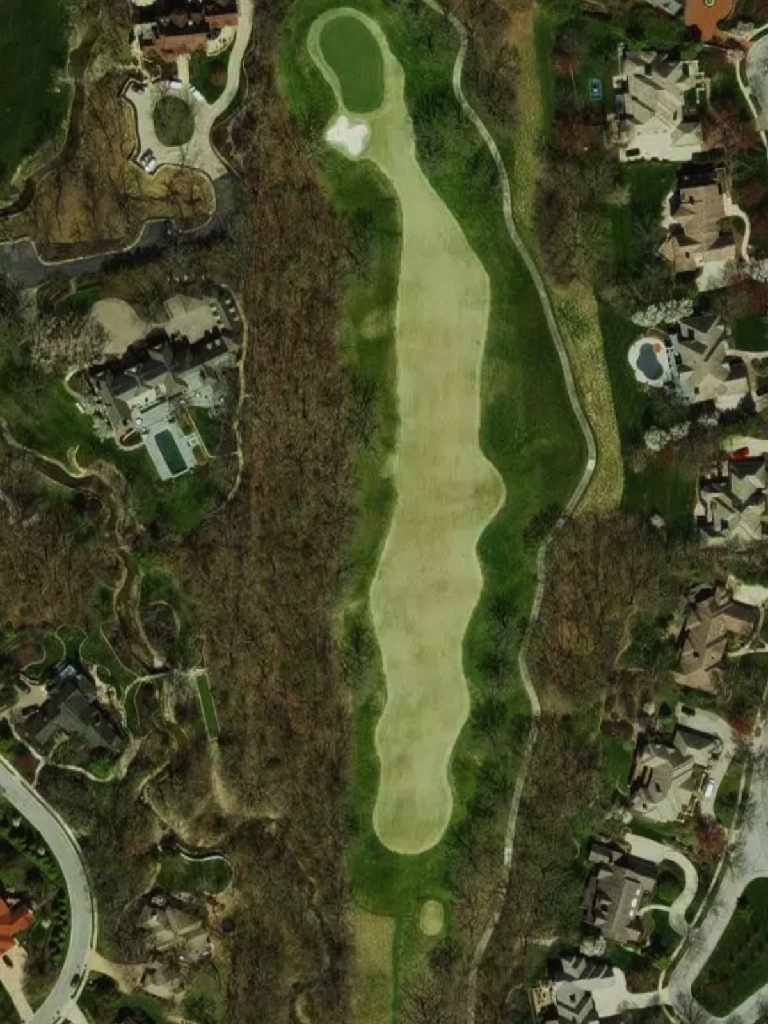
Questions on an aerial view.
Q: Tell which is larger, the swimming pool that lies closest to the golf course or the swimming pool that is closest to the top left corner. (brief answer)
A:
the swimming pool that lies closest to the golf course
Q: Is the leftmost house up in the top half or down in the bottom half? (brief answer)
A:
bottom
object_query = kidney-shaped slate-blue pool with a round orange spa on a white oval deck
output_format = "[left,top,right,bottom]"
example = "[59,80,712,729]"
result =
[628,338,671,388]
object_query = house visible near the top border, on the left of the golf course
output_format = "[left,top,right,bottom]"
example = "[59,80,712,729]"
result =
[143,2,239,62]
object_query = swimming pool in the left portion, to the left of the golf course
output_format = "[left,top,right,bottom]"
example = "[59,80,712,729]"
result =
[154,429,188,475]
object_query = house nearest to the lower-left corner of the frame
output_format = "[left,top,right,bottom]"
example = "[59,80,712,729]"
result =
[0,902,36,952]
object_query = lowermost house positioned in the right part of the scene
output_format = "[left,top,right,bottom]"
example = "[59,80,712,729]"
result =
[533,957,617,1024]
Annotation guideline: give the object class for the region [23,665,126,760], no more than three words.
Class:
house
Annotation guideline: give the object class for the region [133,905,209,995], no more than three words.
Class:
house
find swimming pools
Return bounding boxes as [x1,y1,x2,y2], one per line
[628,338,671,388]
[154,429,188,475]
